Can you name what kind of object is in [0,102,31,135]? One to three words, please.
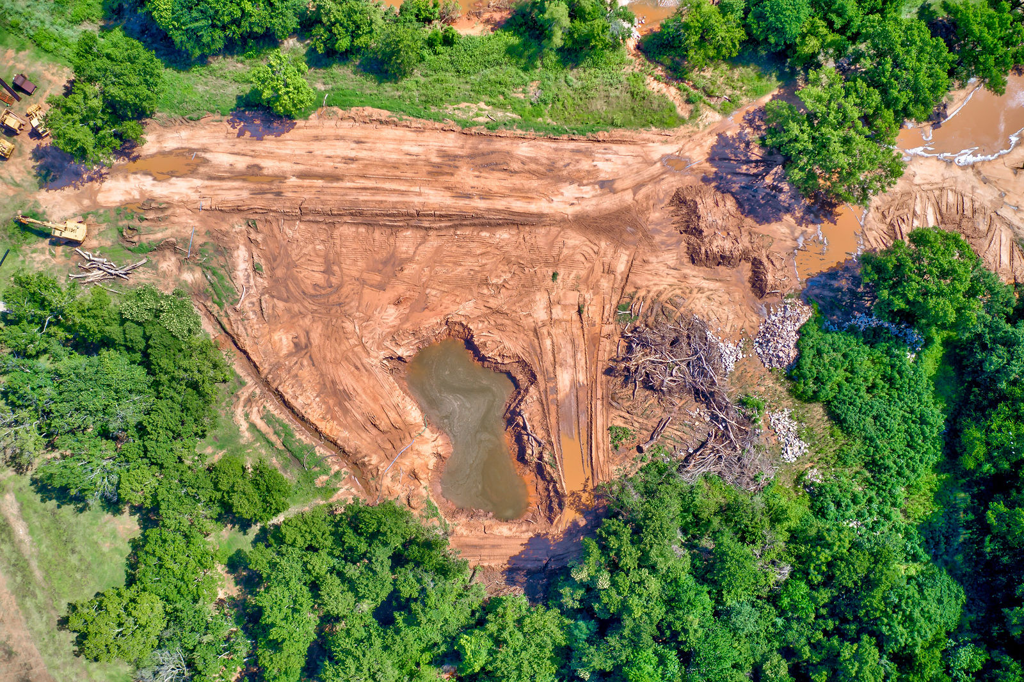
work vehicle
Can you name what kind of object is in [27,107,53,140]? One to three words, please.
work vehicle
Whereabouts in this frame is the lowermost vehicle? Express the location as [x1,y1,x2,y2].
[24,217,95,248]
